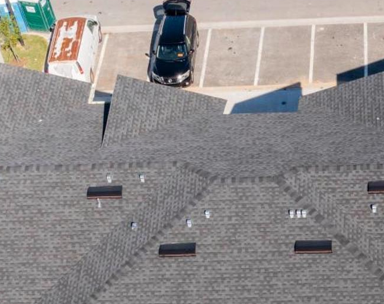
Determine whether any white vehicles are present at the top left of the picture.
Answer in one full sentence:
Yes, I can see a white vehicle at the top left of the picture.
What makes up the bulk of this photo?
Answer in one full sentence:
The largest share of the image is taken up by buildings.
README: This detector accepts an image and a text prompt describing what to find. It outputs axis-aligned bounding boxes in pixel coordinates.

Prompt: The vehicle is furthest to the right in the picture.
[147,0,199,89]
